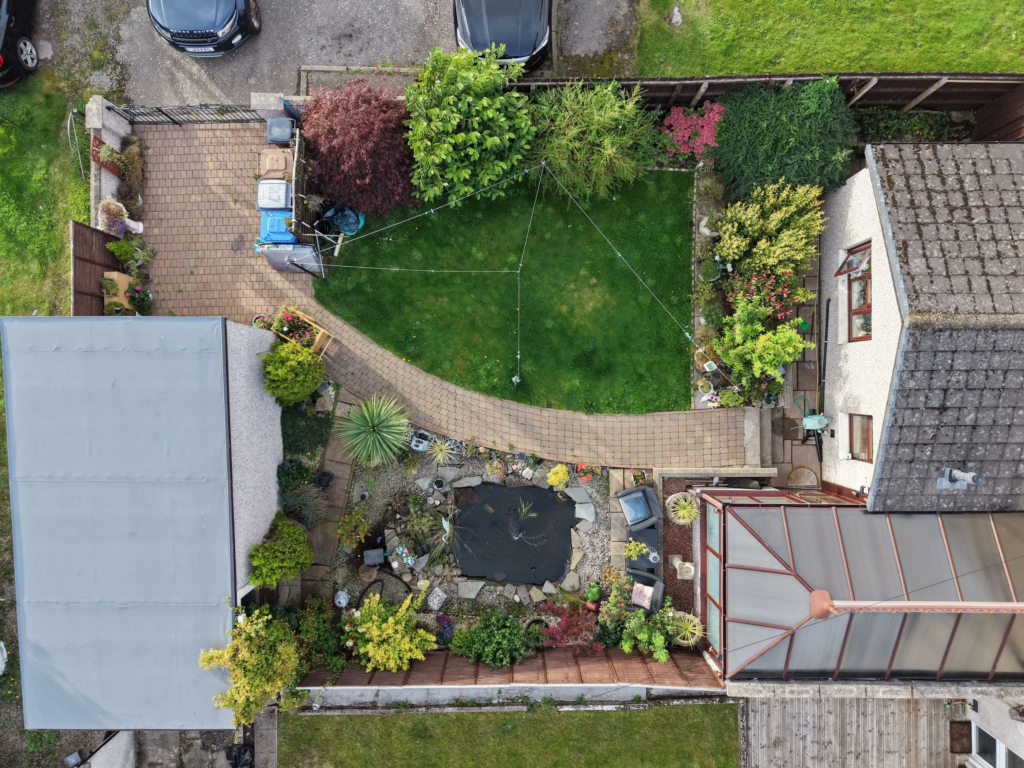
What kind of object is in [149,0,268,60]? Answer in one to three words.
car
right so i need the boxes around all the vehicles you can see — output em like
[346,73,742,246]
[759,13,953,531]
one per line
[452,0,553,78]
[0,0,41,99]
[149,0,268,60]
